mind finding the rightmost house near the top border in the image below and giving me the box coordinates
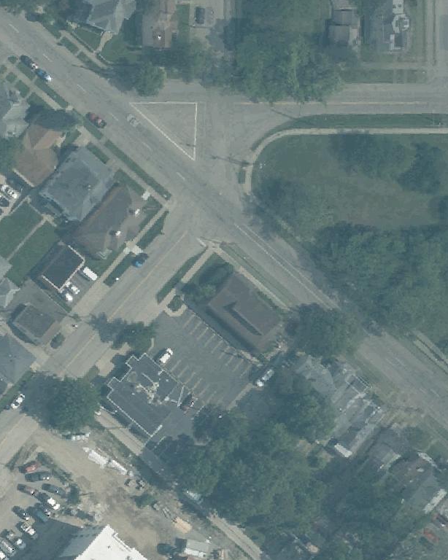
[363,0,412,51]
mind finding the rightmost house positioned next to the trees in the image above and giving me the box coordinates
[393,452,446,514]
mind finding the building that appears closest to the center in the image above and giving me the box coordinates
[207,271,286,351]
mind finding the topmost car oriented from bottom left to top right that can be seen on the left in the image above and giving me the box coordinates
[131,252,149,269]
